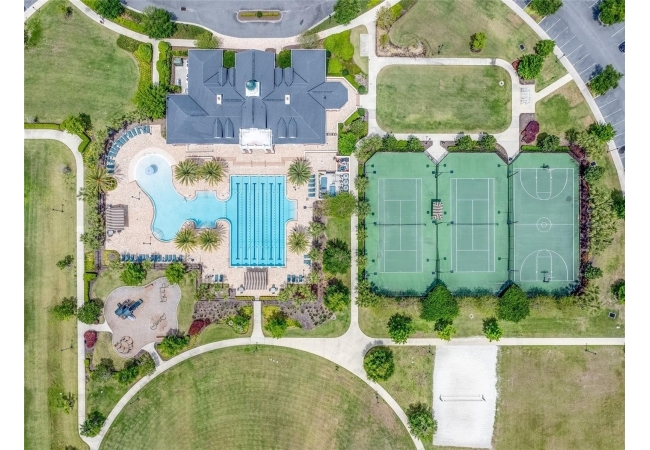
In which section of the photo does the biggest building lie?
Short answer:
top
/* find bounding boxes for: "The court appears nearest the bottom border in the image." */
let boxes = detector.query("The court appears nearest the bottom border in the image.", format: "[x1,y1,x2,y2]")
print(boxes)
[433,345,498,448]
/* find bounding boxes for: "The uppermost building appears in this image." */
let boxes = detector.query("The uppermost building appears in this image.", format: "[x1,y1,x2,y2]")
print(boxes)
[166,46,348,152]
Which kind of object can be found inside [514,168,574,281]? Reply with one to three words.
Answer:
basketball court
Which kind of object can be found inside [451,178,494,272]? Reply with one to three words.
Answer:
tennis court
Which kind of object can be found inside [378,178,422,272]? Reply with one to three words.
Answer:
tennis court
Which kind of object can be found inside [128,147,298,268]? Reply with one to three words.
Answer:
swimming pool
